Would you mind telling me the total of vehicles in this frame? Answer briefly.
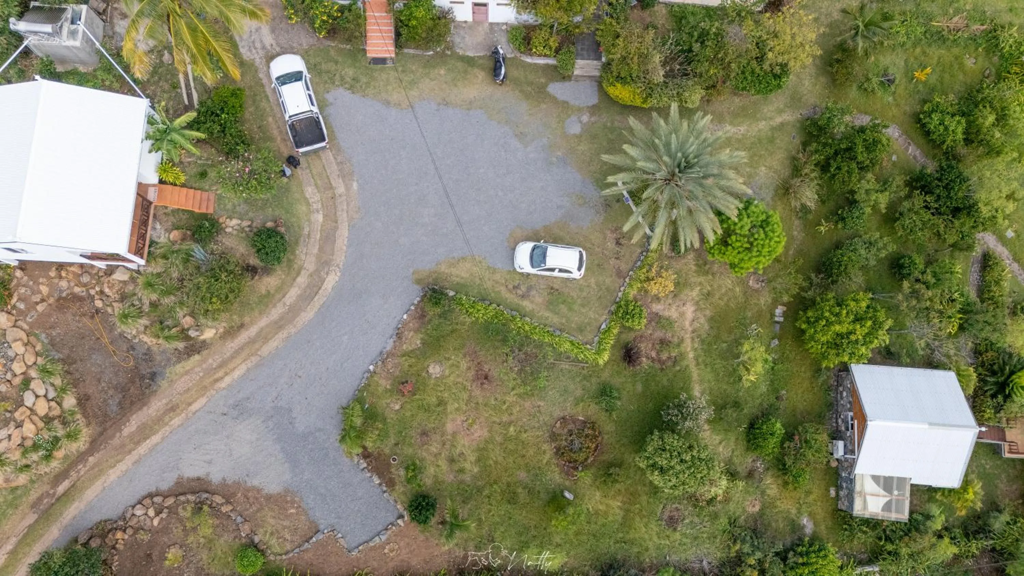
three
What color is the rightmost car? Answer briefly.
white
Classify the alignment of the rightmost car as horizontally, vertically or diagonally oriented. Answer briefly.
horizontally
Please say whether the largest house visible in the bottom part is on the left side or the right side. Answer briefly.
right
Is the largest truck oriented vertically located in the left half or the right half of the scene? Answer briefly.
left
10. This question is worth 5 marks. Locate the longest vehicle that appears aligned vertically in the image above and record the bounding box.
[270,58,328,158]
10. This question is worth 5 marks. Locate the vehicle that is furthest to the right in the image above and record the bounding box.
[513,239,587,282]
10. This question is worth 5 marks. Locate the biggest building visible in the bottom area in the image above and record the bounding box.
[834,364,989,489]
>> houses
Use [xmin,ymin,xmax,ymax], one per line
[398,0,532,24]
[834,364,989,489]
[0,72,175,265]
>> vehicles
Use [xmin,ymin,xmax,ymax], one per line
[486,41,507,84]
[513,239,587,282]
[270,58,328,158]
